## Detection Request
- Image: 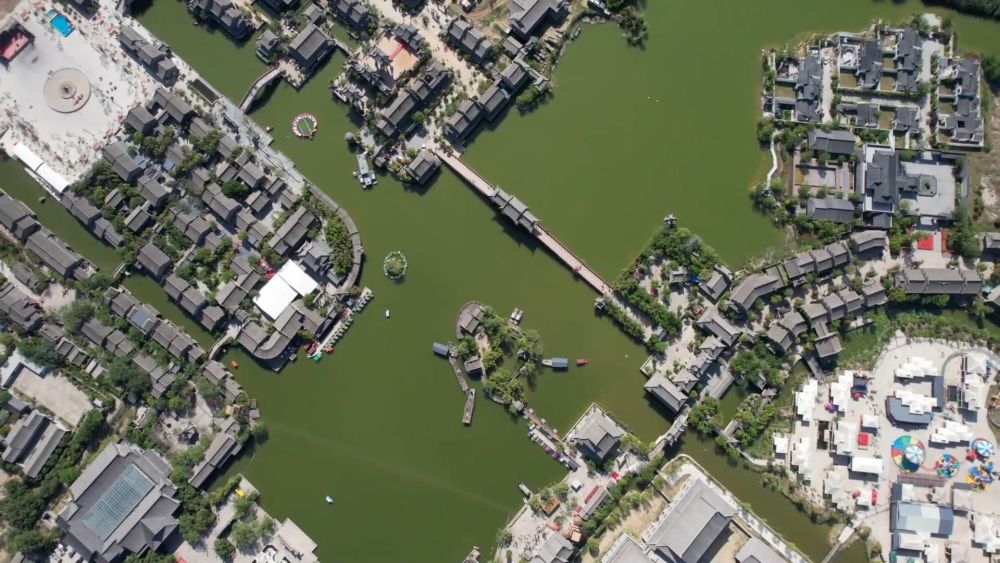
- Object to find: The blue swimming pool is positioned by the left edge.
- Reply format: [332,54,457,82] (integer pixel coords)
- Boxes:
[48,12,76,38]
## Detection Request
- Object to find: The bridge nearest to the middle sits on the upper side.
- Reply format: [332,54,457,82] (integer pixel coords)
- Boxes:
[438,147,609,293]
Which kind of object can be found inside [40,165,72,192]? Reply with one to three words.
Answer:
tent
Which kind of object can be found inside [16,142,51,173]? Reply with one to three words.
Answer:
tent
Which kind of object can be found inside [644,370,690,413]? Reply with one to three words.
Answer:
building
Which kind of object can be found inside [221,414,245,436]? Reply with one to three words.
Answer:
house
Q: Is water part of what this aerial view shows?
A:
Yes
